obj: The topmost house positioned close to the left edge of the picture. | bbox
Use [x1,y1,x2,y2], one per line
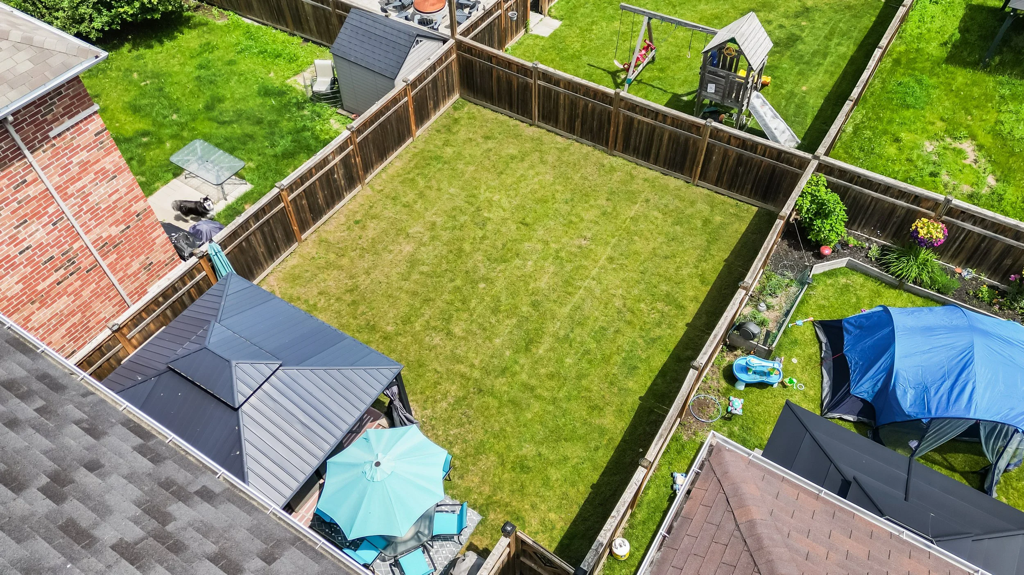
[0,8,183,365]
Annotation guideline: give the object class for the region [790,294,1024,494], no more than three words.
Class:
tent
